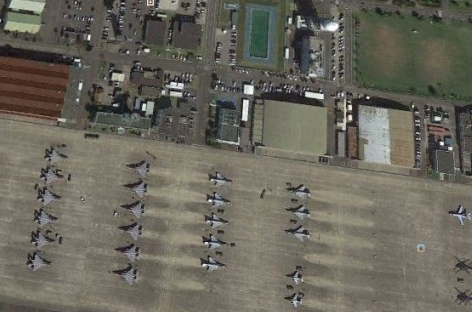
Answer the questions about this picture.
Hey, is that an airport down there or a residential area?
airport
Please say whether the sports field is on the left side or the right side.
right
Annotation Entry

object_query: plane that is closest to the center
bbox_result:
[209,173,227,187]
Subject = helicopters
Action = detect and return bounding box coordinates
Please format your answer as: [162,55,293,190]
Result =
[459,290,472,305]
[457,260,472,274]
